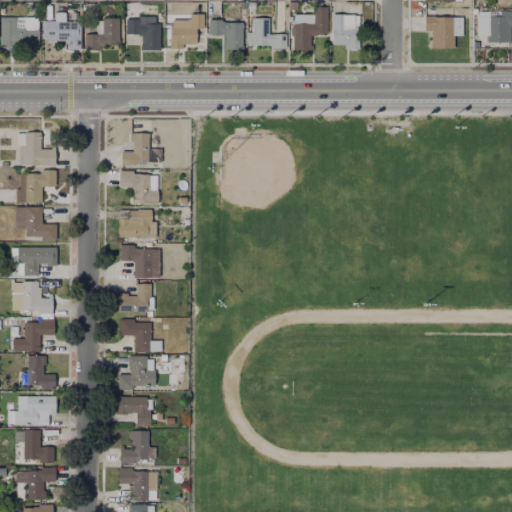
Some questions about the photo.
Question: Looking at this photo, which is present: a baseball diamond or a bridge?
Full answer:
Looking from above, you can make out a baseball diamond.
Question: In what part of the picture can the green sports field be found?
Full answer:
Look in the bottom right portion of the view to spot the green sports field.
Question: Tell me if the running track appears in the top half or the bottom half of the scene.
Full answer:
The bottom half of the photo is where the running track is.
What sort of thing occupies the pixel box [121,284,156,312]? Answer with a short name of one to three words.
house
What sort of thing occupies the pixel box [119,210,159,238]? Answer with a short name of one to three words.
house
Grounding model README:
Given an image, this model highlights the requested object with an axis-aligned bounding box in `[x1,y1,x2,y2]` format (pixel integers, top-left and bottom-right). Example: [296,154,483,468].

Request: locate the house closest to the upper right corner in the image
[478,13,512,43]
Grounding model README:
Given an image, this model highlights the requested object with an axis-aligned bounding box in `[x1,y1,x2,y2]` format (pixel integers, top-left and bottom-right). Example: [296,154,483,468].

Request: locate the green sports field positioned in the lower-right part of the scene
[238,322,512,454]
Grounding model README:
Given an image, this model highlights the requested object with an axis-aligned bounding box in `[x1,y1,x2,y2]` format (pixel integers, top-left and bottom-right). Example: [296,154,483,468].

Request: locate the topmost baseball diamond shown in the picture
[212,128,296,208]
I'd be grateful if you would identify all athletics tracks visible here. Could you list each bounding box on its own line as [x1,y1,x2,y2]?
[223,308,512,468]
